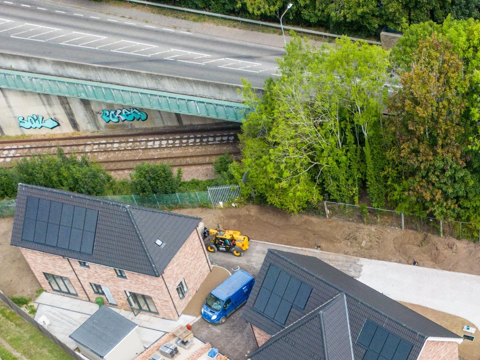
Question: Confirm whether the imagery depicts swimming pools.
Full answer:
No, the frame has no swimming pool in it.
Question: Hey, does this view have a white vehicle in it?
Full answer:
No, there is no white vehicle in the image.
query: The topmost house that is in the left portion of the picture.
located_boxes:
[10,182,214,318]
